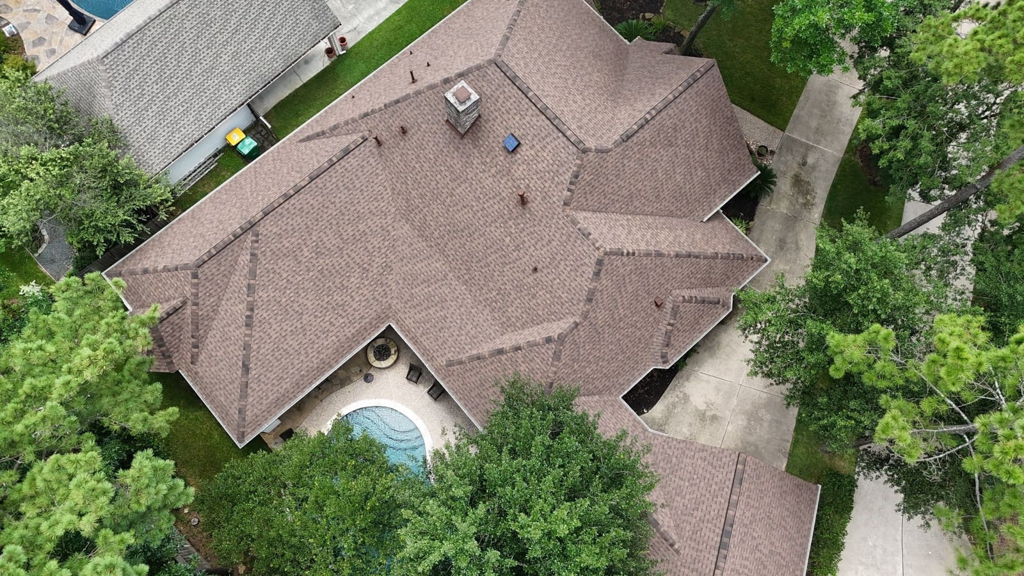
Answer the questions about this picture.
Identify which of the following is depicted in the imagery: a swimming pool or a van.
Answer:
swimming pool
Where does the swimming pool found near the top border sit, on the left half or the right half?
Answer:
left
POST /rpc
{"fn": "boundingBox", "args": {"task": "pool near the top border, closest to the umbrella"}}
[70,0,133,21]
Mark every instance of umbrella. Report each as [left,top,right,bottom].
[57,0,94,34]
